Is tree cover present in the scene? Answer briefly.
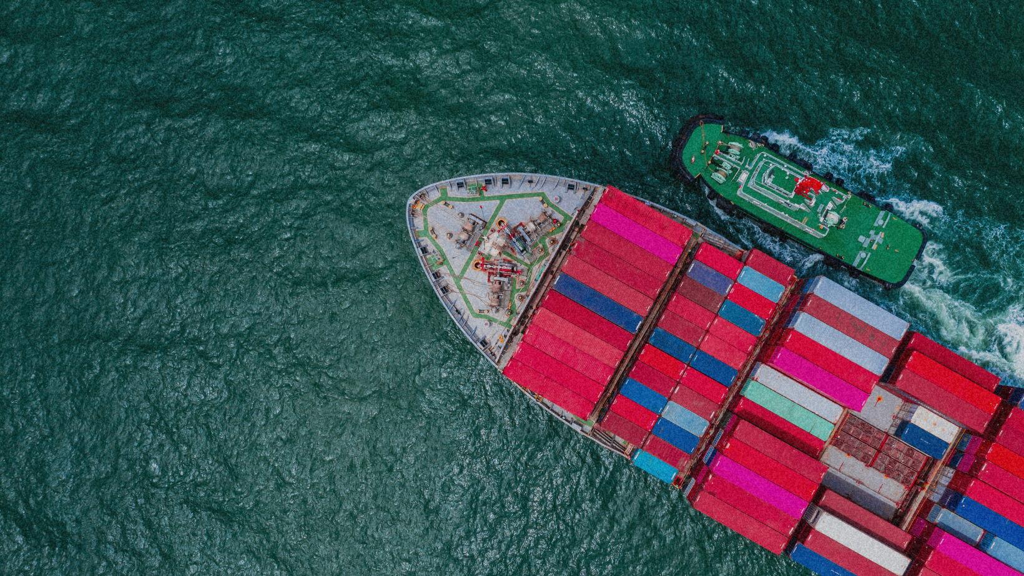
No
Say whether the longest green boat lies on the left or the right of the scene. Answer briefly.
right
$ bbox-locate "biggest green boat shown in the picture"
[667,115,928,292]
